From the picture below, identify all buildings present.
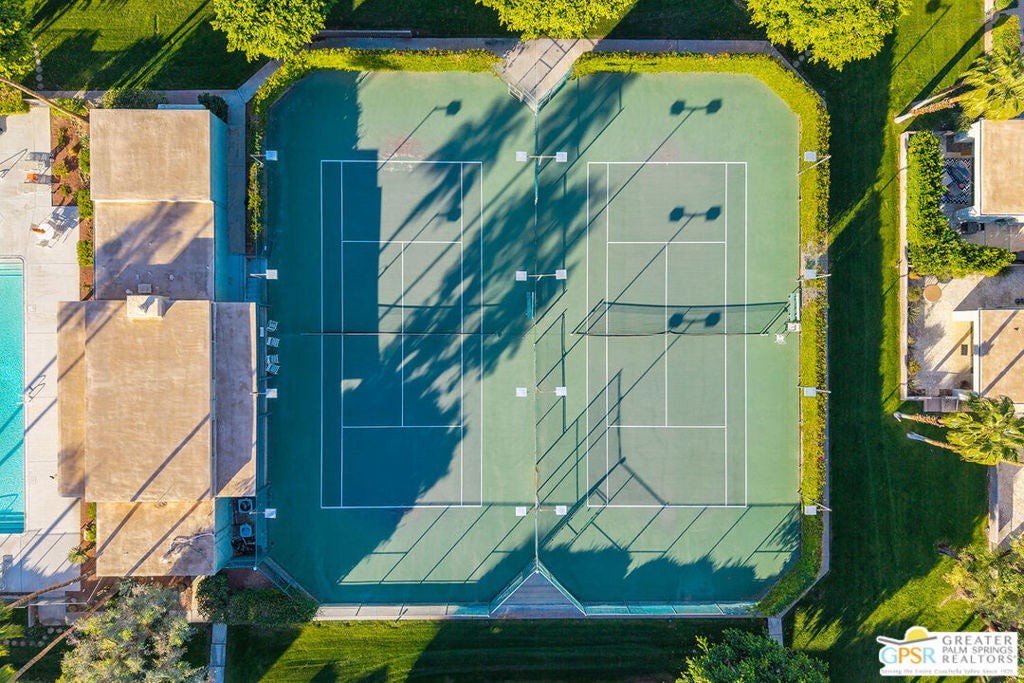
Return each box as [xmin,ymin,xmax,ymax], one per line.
[953,130,1024,219]
[57,110,257,576]
[948,310,1024,405]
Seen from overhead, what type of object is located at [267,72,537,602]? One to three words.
tennis court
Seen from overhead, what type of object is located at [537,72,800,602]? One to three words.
tennis court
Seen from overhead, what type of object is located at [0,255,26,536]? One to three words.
swimming pool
